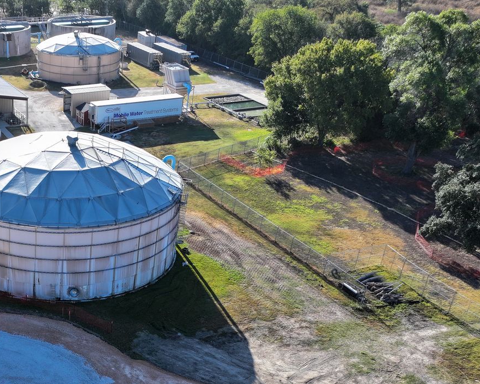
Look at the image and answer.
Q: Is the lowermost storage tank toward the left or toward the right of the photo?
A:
left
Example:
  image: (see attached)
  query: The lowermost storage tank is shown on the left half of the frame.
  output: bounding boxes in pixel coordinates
[0,130,196,304]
